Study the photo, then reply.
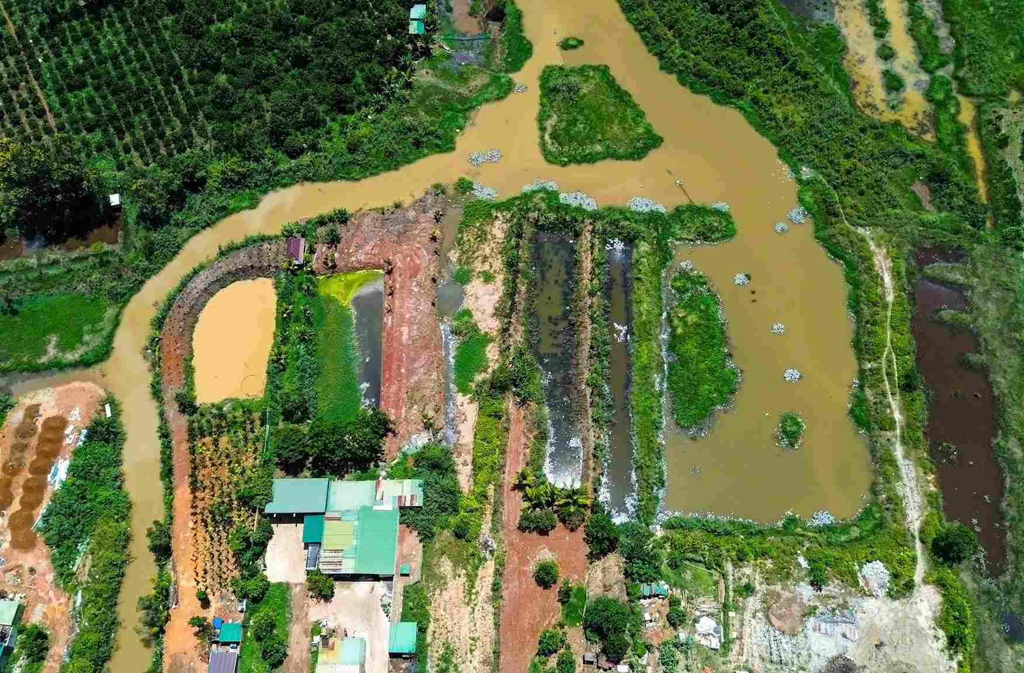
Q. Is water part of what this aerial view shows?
Yes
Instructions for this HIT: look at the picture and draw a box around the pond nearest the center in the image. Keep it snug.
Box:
[315,270,385,416]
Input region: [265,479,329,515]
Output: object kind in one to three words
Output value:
shed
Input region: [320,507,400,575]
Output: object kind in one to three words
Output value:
house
